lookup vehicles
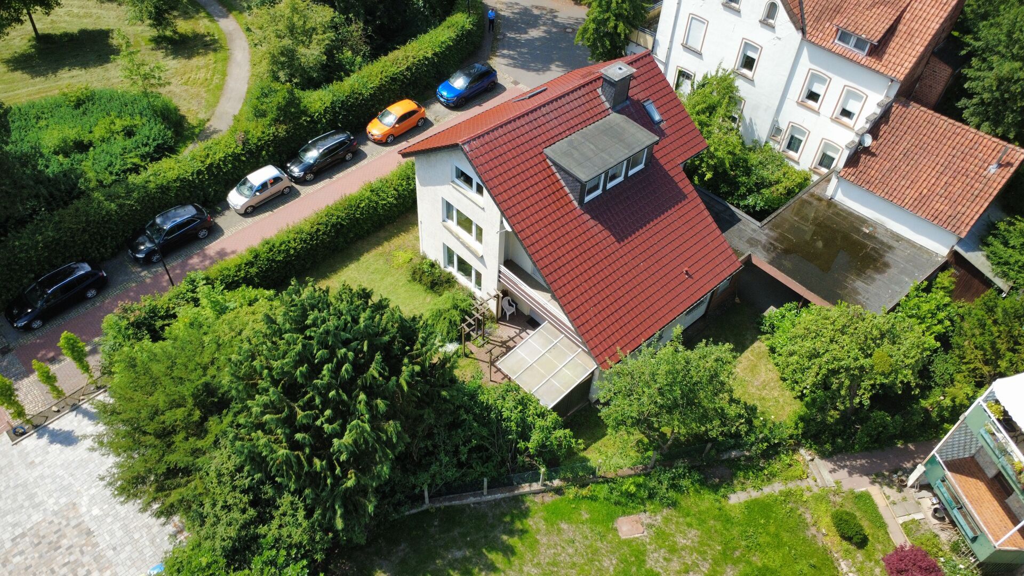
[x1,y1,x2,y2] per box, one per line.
[280,126,358,182]
[121,201,215,264]
[366,99,428,143]
[225,162,293,212]
[0,254,106,330]
[437,61,498,106]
